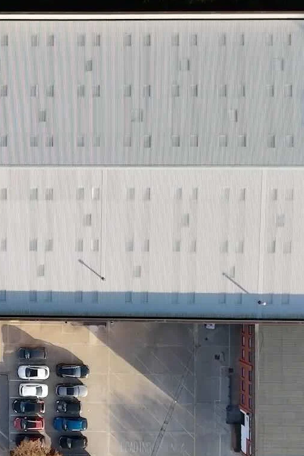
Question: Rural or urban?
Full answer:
The area is urban.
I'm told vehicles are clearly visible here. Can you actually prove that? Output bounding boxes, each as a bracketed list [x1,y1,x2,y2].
[18,346,48,362]
[57,363,88,379]
[18,382,48,398]
[12,400,45,415]
[55,399,83,414]
[55,383,87,399]
[54,416,87,431]
[17,365,50,381]
[13,417,44,430]
[58,435,88,449]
